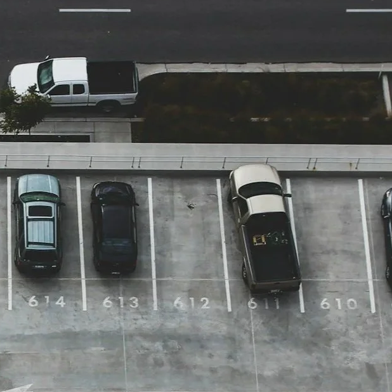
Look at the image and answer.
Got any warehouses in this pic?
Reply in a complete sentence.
No, the picture doesn't show any warehouse.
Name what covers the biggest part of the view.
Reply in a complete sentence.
The scene is dominated by paved ground.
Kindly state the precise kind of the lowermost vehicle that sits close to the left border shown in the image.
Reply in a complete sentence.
Looking closely, the lowermost vehicle that sits close to the left border is a car.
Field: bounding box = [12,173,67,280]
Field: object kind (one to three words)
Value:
car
